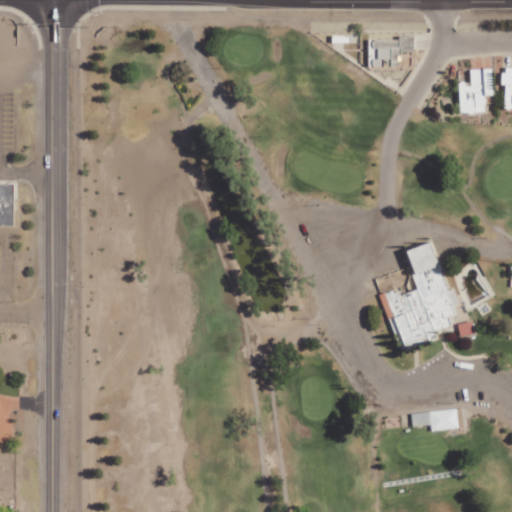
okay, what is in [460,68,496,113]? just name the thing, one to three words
house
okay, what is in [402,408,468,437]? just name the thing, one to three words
building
